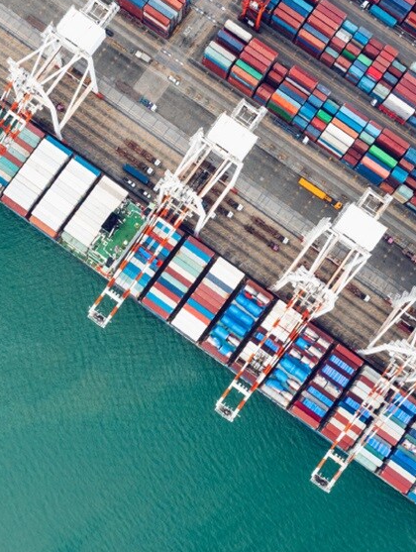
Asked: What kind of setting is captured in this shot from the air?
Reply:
port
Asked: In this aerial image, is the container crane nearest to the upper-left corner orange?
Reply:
No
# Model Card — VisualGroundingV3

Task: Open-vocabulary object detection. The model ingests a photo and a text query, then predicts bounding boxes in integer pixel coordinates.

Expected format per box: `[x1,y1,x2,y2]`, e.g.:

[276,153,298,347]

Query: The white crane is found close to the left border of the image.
[0,0,122,165]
